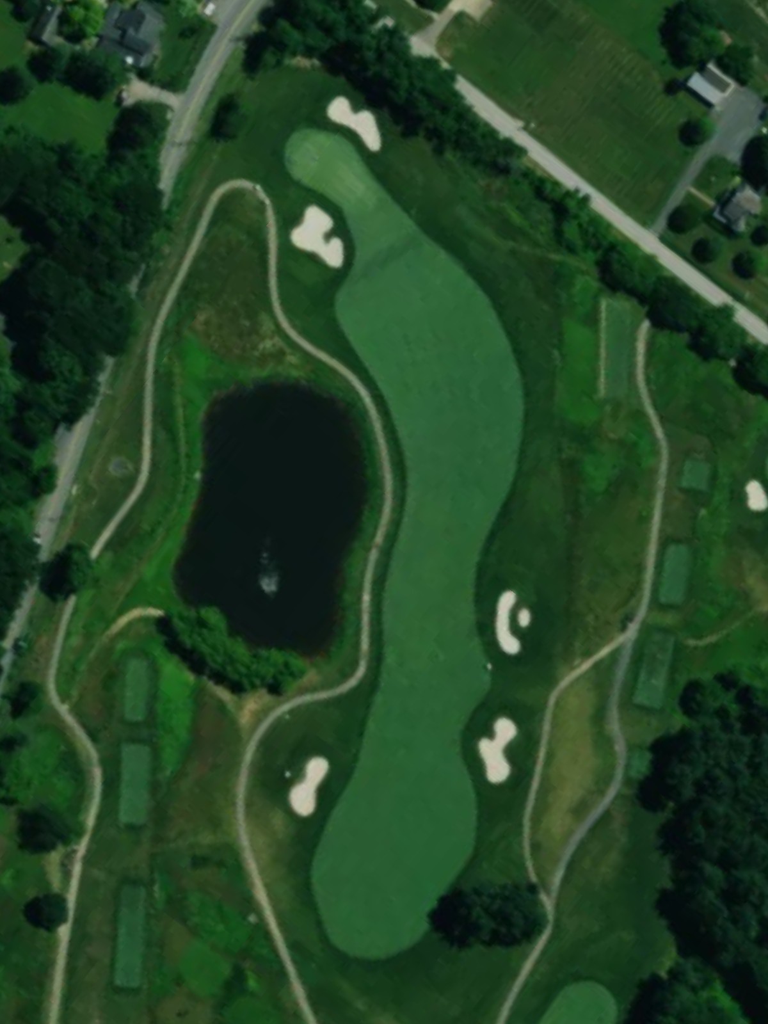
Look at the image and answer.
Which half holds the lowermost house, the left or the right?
right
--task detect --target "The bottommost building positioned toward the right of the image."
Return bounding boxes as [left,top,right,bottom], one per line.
[709,181,768,231]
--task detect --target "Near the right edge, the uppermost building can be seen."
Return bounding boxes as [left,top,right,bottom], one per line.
[689,60,735,105]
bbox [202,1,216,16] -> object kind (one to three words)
vehicle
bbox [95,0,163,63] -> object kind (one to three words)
house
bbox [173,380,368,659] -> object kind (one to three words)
pond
